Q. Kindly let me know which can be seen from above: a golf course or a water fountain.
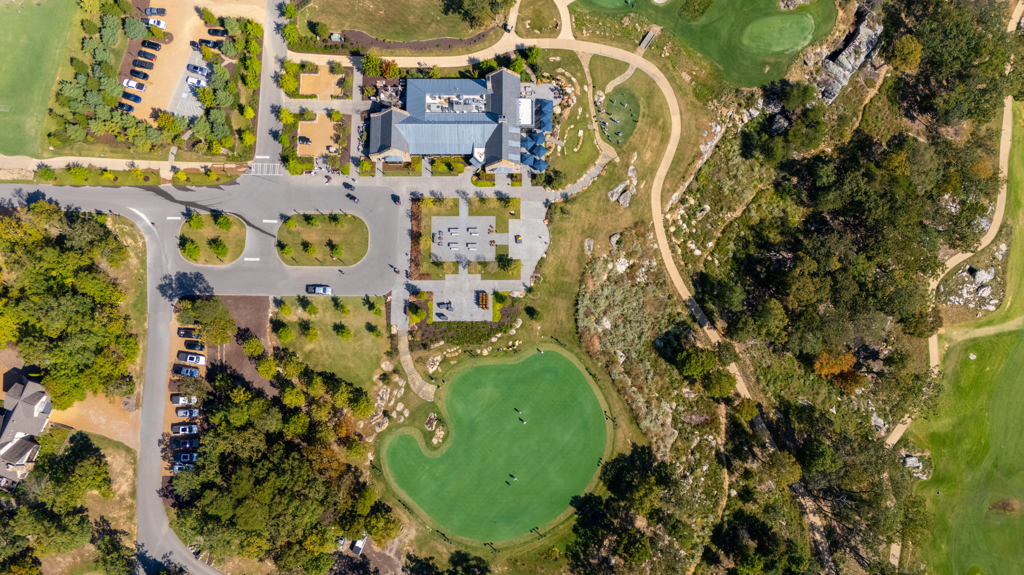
golf course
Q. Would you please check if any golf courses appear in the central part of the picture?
No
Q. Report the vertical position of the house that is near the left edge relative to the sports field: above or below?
below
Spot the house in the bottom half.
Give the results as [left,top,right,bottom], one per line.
[0,376,55,494]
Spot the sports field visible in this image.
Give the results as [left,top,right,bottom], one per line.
[0,0,82,159]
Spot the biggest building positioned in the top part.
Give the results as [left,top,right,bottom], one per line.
[369,67,535,175]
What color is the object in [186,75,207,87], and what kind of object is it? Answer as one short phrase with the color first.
white vehicle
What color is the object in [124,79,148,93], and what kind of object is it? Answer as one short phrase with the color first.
white vehicle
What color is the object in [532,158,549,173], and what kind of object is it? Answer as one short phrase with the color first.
blue umbrella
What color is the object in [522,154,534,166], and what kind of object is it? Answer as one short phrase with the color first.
blue umbrella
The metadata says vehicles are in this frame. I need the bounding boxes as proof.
[170,396,198,406]
[208,28,228,38]
[142,39,162,51]
[189,39,201,52]
[347,193,359,204]
[328,146,339,155]
[131,58,156,71]
[143,17,166,29]
[171,438,199,449]
[505,23,513,35]
[173,366,201,377]
[394,194,402,206]
[307,285,334,295]
[124,79,148,93]
[187,63,208,75]
[199,38,220,50]
[146,6,167,17]
[172,424,200,436]
[177,407,200,418]
[122,91,143,104]
[186,75,207,87]
[185,341,208,351]
[177,330,204,341]
[352,534,368,557]
[130,68,150,81]
[344,183,356,193]
[298,136,312,146]
[138,50,158,61]
[116,100,137,114]
[179,353,206,365]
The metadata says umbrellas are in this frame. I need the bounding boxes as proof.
[532,132,546,145]
[541,99,553,110]
[532,144,548,159]
[521,136,535,151]
[532,158,549,173]
[541,120,553,131]
[522,154,534,166]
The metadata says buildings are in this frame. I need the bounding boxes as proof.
[369,67,535,175]
[0,376,55,494]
